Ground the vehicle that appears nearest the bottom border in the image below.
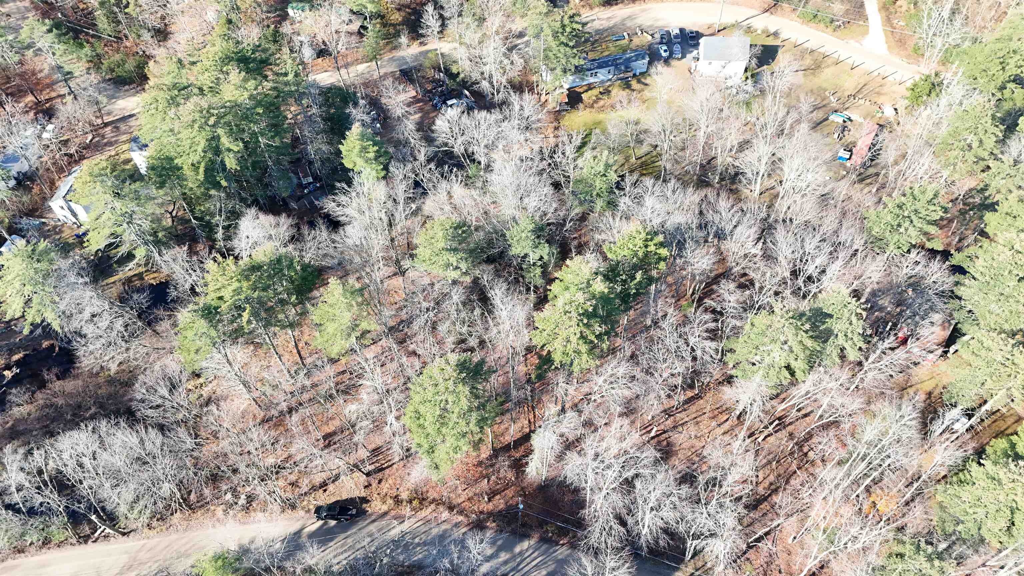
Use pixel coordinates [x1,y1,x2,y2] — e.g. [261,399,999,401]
[313,503,359,522]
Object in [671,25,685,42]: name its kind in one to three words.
vehicle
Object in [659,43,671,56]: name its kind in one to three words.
vehicle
